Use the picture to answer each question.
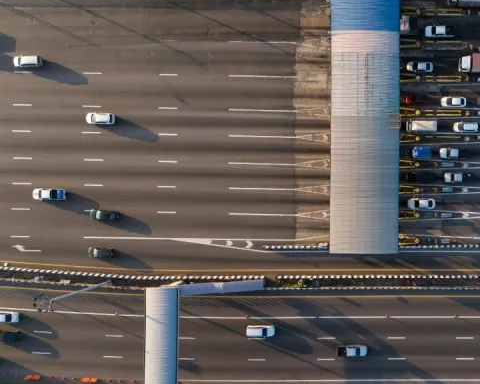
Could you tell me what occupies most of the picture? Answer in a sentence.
The largest share of the image is taken up by paved ground.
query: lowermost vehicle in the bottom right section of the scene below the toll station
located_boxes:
[337,344,367,359]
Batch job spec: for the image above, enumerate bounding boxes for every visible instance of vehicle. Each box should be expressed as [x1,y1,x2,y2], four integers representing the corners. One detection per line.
[88,246,116,259]
[444,170,471,184]
[245,325,276,339]
[407,197,435,211]
[86,111,116,125]
[405,92,428,106]
[440,94,467,108]
[405,171,437,185]
[440,147,471,161]
[453,120,478,134]
[399,146,413,160]
[337,344,367,359]
[407,60,434,73]
[446,0,480,8]
[91,208,120,222]
[0,331,23,345]
[407,119,439,133]
[0,311,21,325]
[424,24,455,38]
[459,53,480,72]
[32,187,66,201]
[399,17,419,33]
[13,55,44,69]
